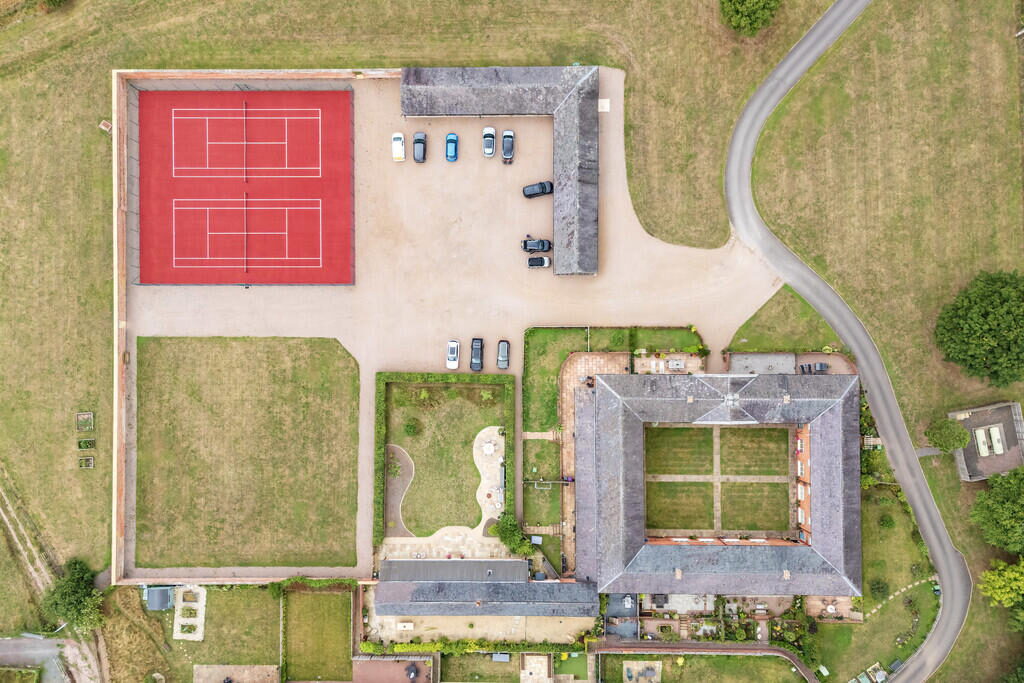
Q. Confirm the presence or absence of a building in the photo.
Yes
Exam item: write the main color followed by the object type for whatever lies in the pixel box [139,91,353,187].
red tennis court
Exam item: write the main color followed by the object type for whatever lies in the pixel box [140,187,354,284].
red tennis court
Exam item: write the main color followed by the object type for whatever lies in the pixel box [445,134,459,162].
blue car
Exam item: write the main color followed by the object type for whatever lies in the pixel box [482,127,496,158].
white car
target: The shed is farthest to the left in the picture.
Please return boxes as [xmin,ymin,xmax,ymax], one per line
[147,585,175,609]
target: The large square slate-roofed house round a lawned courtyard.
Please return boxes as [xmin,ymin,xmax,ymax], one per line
[573,373,861,597]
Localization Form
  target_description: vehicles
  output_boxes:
[521,235,552,254]
[469,338,483,371]
[447,340,459,369]
[522,181,552,198]
[482,127,496,158]
[413,132,426,164]
[497,340,509,369]
[502,131,515,160]
[527,256,552,268]
[445,134,459,162]
[391,133,405,163]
